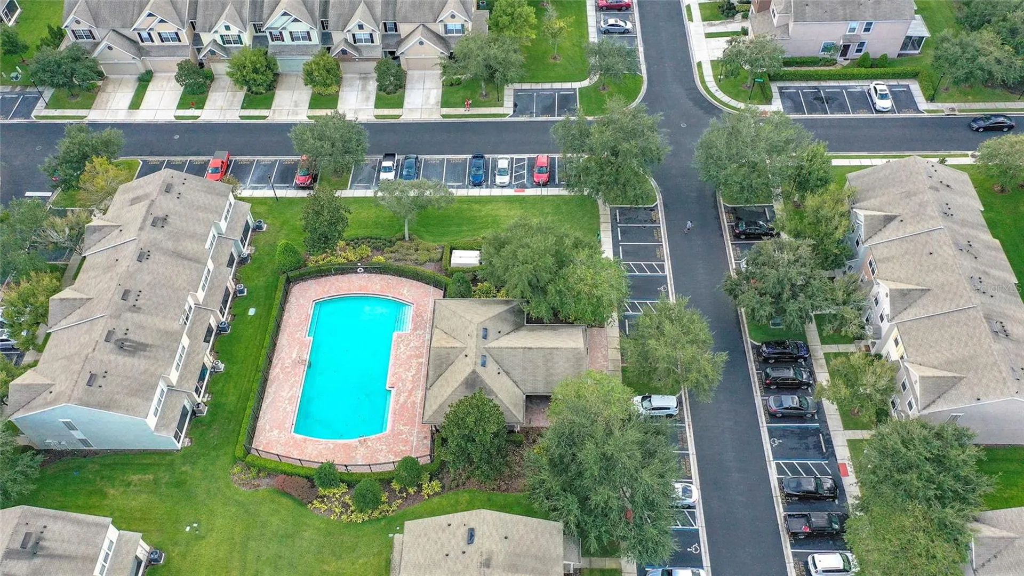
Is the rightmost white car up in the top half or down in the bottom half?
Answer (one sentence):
It is in the top half that the rightmost white car appears.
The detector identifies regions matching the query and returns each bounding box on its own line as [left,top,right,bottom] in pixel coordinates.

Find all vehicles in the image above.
[777,474,841,503]
[378,153,399,186]
[758,340,810,364]
[764,394,819,419]
[662,486,702,509]
[866,85,892,113]
[732,221,779,241]
[493,158,511,188]
[468,156,486,187]
[599,20,633,35]
[294,158,314,190]
[778,512,847,541]
[400,154,420,180]
[598,0,631,13]
[800,549,862,576]
[633,395,681,420]
[970,115,1015,133]
[533,155,551,186]
[643,561,707,576]
[762,365,815,390]
[205,151,232,183]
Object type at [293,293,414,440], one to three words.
swimming pool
